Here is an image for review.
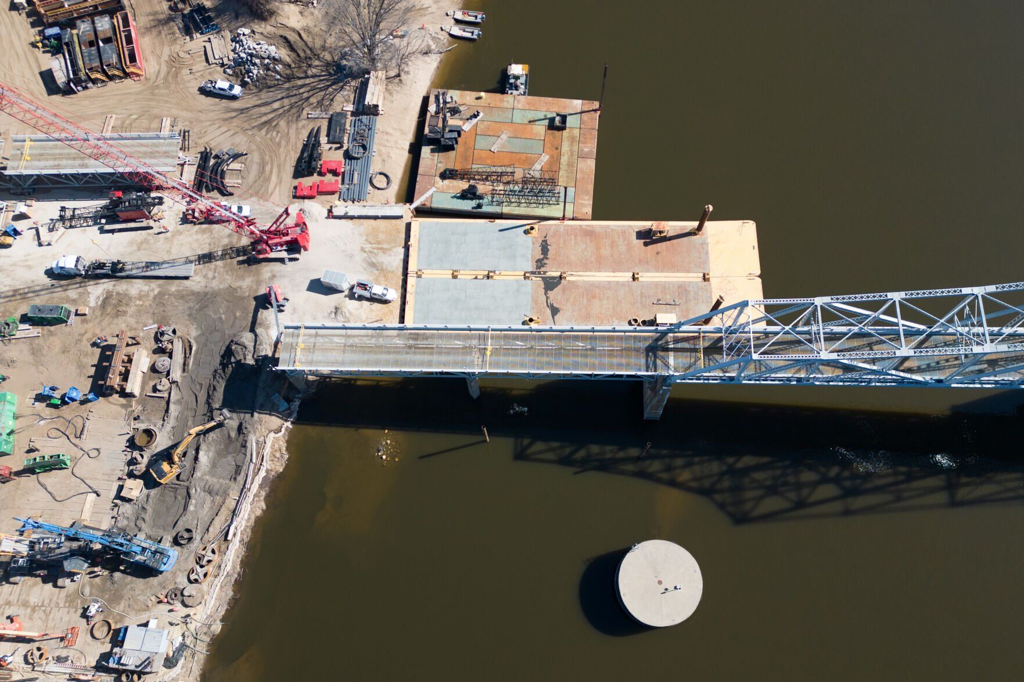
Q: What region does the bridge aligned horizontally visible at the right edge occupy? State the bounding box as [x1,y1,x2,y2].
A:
[666,282,1024,392]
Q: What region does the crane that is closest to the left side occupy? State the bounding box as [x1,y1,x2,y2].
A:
[0,520,100,585]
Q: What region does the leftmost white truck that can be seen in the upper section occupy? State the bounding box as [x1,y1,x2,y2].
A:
[50,254,87,276]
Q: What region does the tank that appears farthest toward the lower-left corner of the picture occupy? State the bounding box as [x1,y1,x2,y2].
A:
[0,392,28,457]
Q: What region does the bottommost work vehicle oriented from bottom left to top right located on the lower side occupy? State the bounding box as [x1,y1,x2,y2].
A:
[150,410,237,485]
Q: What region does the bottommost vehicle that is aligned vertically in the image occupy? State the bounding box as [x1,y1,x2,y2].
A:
[266,284,287,352]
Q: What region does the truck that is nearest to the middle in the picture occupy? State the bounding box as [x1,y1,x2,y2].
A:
[348,276,401,304]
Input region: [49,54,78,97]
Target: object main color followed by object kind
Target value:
white storage tank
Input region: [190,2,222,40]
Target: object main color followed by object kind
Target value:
black shipping container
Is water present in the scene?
Yes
